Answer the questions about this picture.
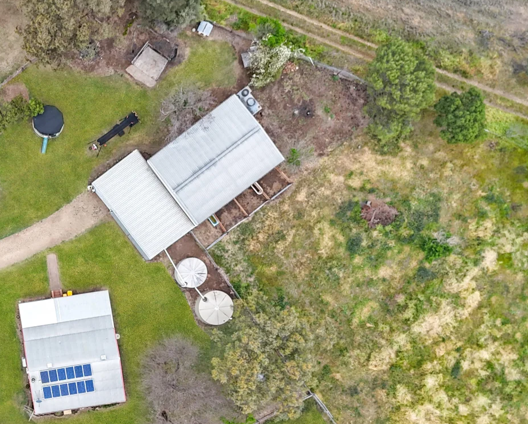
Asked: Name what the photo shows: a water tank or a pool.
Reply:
water tank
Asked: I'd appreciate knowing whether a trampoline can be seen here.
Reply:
Yes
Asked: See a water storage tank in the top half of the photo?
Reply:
No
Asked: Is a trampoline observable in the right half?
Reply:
No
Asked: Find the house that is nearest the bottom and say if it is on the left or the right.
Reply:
left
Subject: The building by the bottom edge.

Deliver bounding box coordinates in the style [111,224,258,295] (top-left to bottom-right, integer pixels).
[18,290,127,414]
